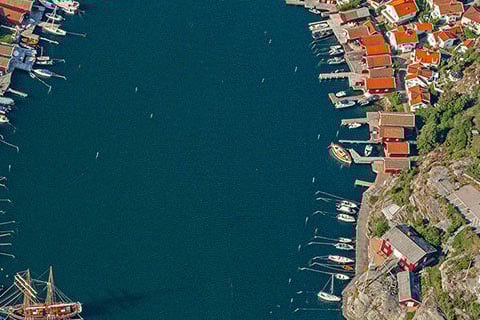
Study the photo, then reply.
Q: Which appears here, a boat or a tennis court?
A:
boat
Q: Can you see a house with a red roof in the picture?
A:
Yes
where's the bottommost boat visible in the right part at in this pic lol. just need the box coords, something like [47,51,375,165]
[319,279,341,300]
